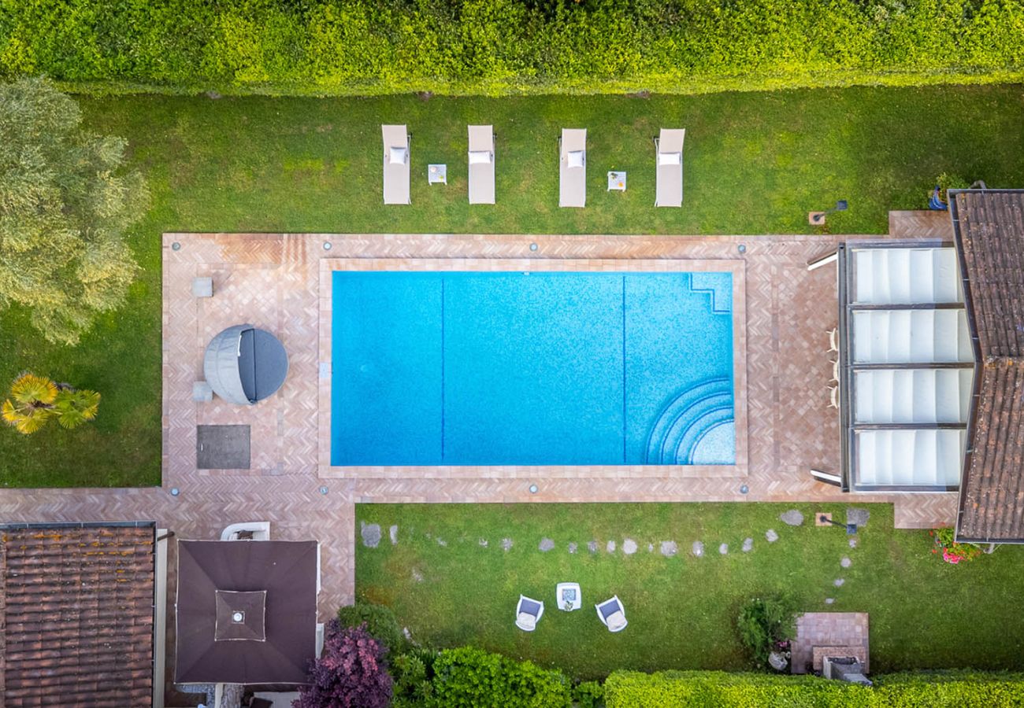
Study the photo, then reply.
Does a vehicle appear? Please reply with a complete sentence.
No, there isn't any vehicle down there.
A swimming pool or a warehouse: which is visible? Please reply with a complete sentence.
It is a swimming pool that can be seen here.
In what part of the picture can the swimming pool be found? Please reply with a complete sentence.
Look in the center portion of the view to spot the swimming pool.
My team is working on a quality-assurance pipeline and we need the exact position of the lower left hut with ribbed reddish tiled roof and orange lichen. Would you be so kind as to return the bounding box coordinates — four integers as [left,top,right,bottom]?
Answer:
[0,523,173,708]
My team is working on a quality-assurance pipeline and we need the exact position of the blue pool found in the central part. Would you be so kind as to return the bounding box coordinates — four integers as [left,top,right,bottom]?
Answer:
[318,259,748,477]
